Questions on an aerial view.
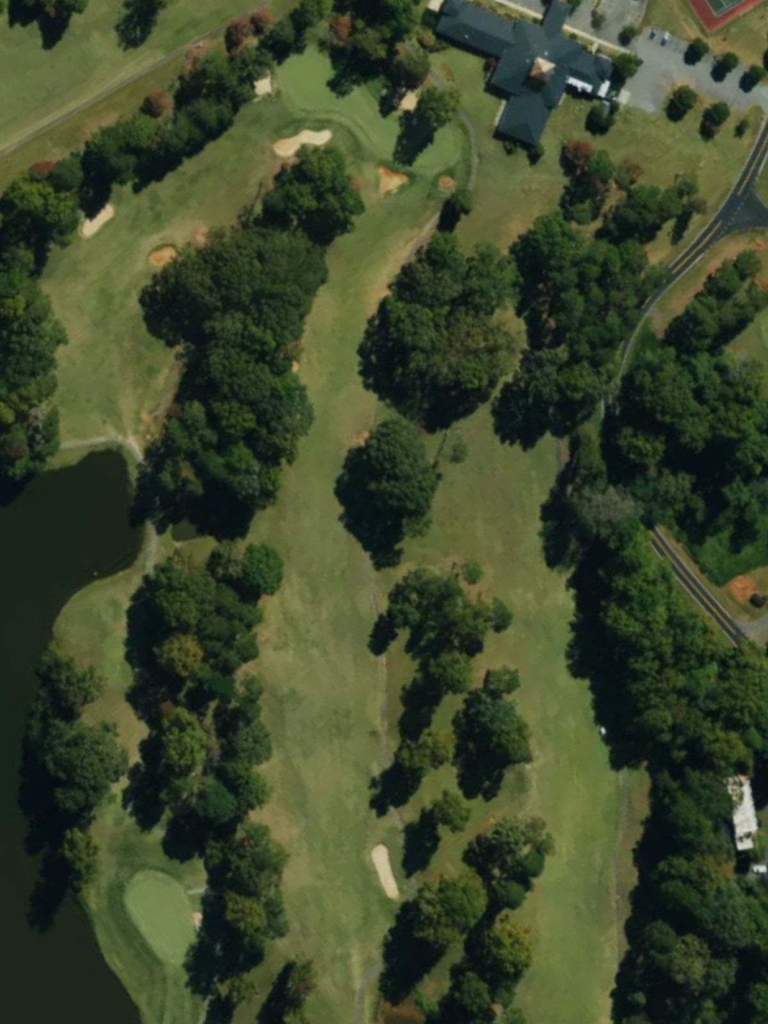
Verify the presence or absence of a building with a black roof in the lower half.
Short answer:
No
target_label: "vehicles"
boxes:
[649,29,656,40]
[754,866,766,872]
[661,31,669,44]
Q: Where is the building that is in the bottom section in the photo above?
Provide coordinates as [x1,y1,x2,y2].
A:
[731,773,757,851]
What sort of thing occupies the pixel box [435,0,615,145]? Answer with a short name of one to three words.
building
